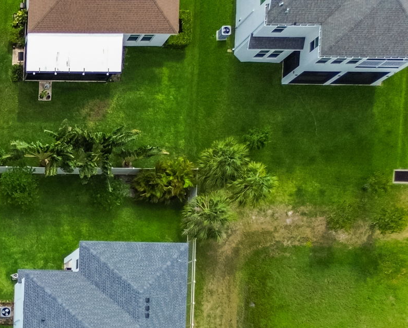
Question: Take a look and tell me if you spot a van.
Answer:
No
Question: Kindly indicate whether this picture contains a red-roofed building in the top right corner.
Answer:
No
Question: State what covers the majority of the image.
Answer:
grass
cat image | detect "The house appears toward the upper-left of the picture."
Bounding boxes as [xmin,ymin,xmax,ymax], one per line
[20,0,180,85]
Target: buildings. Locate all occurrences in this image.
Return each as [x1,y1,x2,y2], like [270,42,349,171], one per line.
[20,0,180,85]
[13,240,188,328]
[235,0,408,84]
